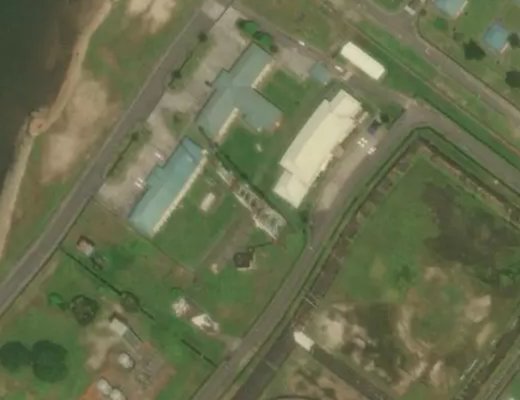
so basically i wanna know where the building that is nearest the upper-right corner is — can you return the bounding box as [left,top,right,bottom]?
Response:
[484,25,509,51]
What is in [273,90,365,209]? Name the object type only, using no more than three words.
building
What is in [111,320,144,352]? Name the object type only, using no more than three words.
house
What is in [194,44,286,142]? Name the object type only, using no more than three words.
building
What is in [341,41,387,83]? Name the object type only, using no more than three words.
shed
